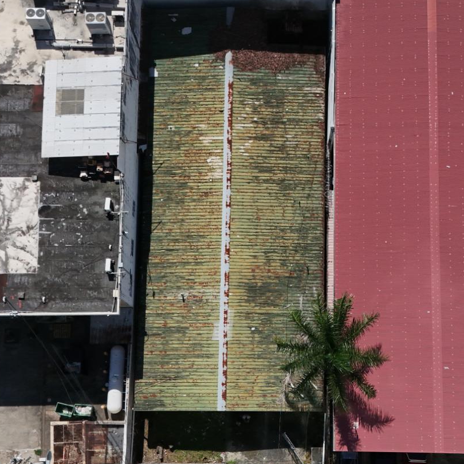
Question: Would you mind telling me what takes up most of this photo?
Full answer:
The bulk of the photo consists of buildings.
